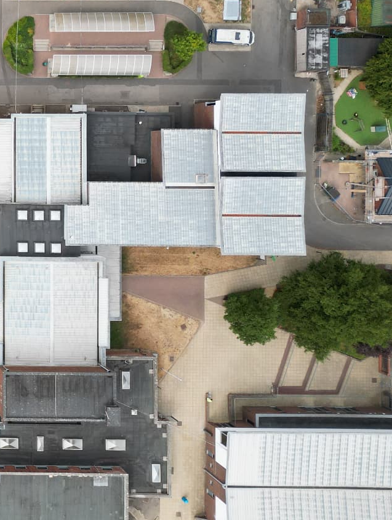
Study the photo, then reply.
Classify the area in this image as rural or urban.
urban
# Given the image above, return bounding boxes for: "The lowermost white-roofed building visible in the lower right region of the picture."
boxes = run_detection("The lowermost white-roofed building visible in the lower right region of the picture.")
[204,422,392,520]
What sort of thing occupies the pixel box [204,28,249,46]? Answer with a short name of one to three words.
vehicle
